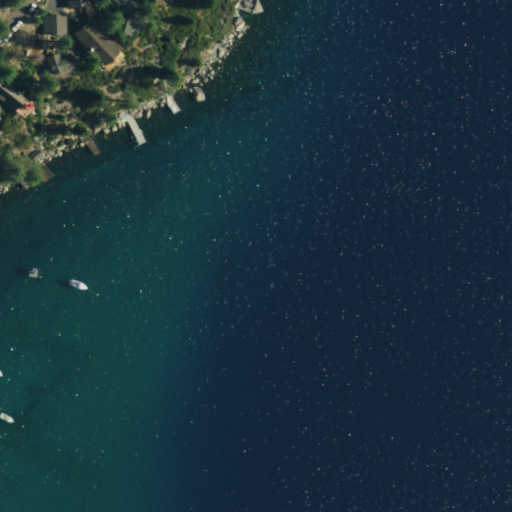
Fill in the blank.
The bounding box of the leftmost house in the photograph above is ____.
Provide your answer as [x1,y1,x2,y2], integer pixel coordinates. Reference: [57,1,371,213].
[0,80,34,118]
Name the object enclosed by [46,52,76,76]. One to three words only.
house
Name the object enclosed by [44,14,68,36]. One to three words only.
house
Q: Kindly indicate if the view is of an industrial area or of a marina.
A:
marina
